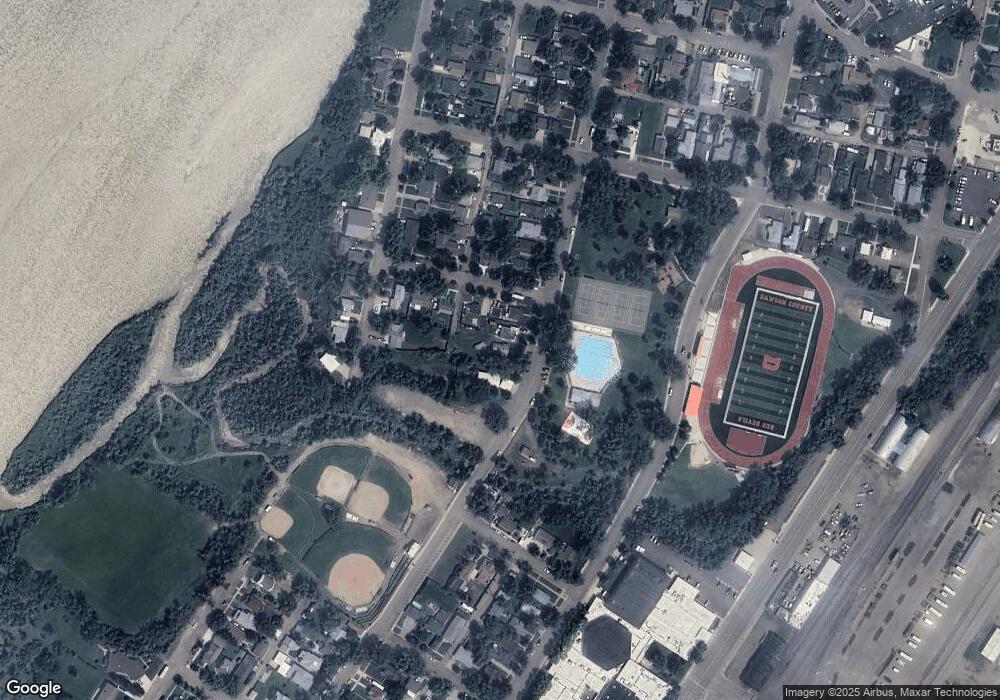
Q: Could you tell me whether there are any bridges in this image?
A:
No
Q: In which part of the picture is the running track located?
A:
right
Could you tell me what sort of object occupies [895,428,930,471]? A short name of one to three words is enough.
building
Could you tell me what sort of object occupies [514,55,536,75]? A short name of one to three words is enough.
house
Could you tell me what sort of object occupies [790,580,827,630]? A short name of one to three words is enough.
building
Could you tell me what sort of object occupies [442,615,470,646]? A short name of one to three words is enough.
house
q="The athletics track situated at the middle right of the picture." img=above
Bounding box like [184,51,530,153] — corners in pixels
[699,256,836,468]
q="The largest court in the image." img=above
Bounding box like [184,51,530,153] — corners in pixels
[571,276,652,334]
